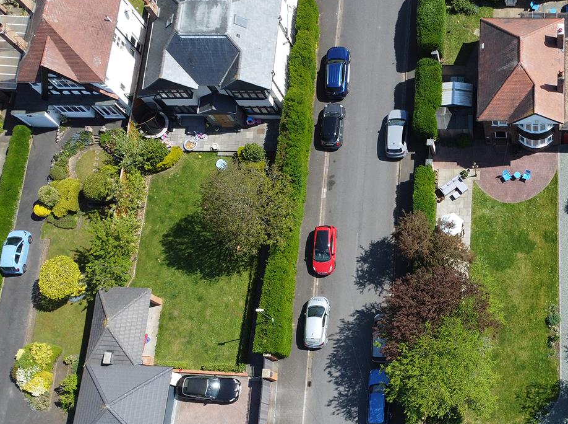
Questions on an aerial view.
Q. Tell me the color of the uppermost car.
blue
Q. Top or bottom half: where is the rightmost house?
top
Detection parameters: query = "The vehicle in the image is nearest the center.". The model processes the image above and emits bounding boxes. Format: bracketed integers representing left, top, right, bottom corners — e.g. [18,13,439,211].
[308,225,340,278]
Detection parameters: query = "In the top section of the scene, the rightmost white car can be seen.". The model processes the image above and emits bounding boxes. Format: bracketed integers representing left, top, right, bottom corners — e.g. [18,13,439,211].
[382,111,408,160]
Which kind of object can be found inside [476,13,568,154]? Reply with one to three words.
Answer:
house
